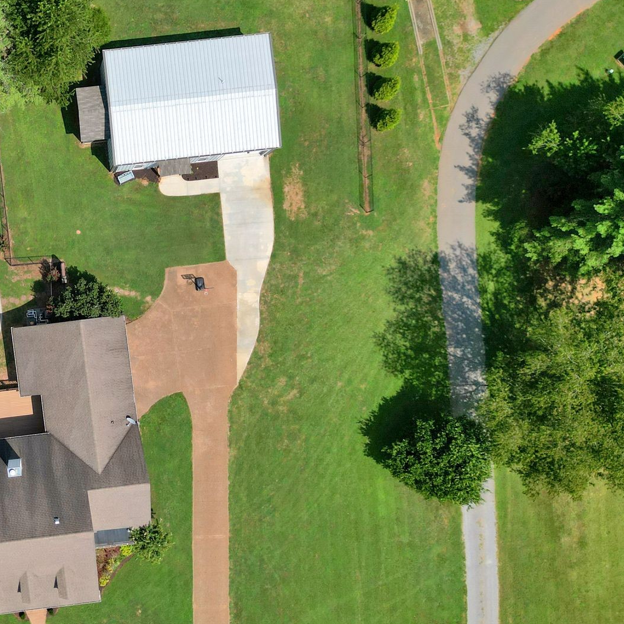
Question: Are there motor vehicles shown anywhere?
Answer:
No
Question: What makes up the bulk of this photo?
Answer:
grass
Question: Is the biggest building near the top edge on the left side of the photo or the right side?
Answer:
left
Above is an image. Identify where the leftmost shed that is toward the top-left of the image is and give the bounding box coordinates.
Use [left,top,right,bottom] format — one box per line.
[77,86,106,149]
